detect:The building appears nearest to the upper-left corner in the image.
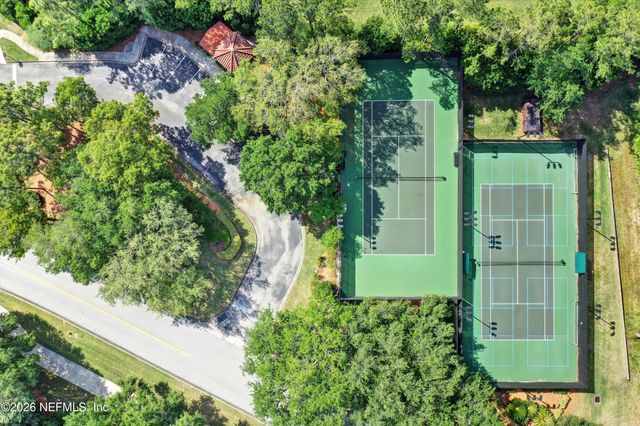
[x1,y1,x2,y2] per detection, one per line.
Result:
[199,21,259,81]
